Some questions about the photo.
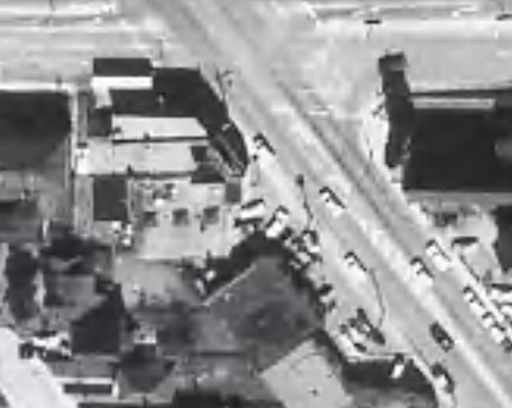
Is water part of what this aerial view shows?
No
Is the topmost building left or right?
left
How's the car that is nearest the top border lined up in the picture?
at an angle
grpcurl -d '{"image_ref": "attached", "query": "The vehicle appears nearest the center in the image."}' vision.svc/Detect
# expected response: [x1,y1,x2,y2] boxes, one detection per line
[238,203,268,219]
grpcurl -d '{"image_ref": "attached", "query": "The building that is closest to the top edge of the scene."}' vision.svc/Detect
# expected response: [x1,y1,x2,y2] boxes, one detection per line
[90,77,153,110]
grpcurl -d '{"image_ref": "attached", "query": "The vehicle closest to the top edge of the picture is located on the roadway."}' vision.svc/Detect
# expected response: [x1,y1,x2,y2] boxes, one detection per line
[252,132,276,158]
